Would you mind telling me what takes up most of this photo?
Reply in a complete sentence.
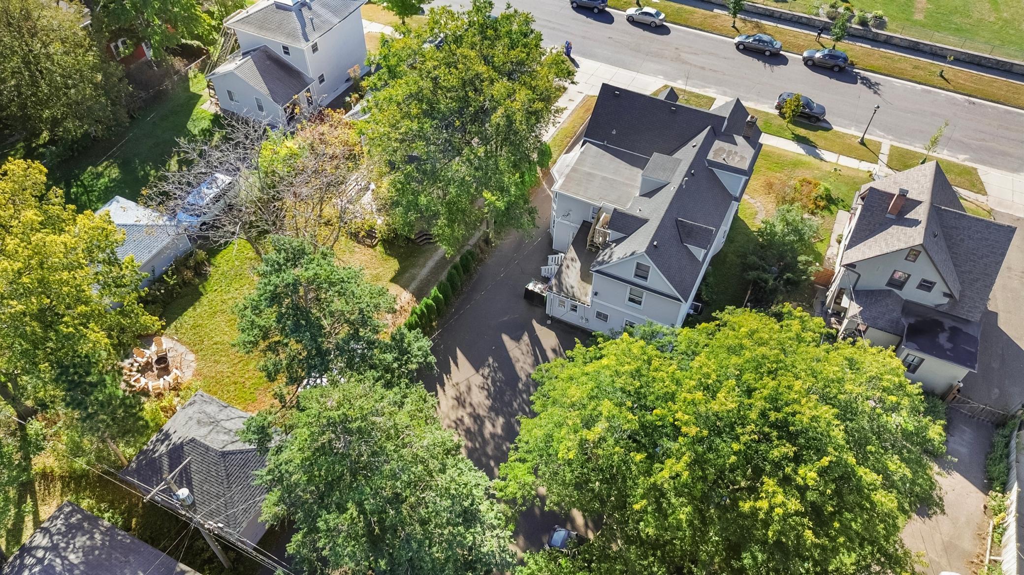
The largest share of the image is taken up by trees.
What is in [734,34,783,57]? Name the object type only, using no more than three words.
car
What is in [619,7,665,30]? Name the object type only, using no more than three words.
car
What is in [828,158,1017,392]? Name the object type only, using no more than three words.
house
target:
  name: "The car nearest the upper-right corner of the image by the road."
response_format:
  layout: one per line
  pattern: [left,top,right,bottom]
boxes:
[801,48,853,74]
